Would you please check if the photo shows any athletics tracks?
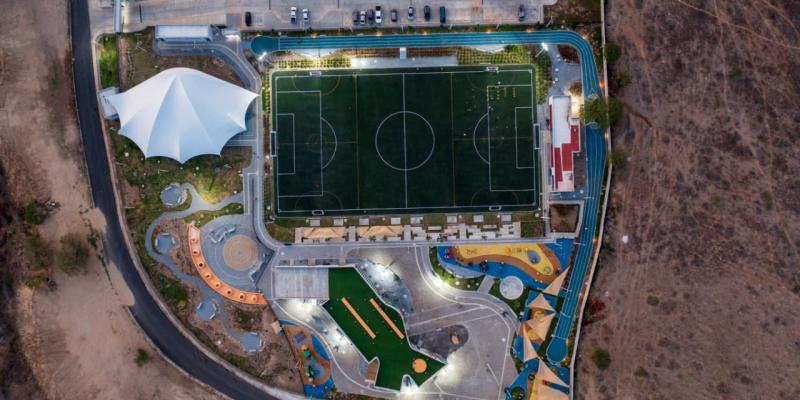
Yes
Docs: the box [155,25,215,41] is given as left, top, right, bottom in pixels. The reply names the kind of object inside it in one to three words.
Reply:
building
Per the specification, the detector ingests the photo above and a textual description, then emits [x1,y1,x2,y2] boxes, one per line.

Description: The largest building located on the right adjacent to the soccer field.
[549,97,580,192]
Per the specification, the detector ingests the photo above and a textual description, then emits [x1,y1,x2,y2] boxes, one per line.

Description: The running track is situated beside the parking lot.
[250,30,605,363]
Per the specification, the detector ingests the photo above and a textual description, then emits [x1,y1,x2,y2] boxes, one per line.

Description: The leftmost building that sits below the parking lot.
[98,87,121,120]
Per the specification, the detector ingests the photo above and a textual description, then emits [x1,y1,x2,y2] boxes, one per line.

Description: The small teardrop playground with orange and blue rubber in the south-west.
[280,320,334,397]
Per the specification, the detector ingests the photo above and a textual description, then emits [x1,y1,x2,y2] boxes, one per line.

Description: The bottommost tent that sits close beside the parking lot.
[109,67,265,168]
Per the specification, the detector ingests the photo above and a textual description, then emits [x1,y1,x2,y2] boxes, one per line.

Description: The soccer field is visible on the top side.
[274,65,539,217]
